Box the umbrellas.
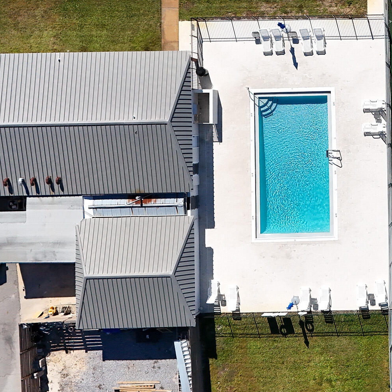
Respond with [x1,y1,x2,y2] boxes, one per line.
[276,23,292,35]
[286,297,299,309]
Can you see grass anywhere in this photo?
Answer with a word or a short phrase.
Yes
